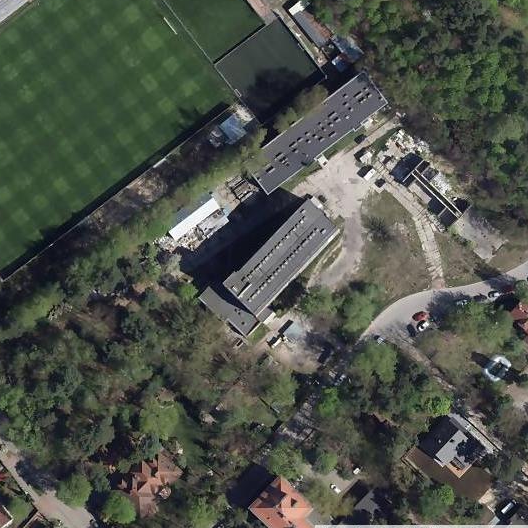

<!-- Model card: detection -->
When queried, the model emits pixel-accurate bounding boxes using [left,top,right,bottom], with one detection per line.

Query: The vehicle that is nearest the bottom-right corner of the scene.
[499,500,516,514]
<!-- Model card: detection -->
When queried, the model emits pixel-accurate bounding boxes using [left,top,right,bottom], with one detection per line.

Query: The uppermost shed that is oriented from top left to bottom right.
[294,4,331,48]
